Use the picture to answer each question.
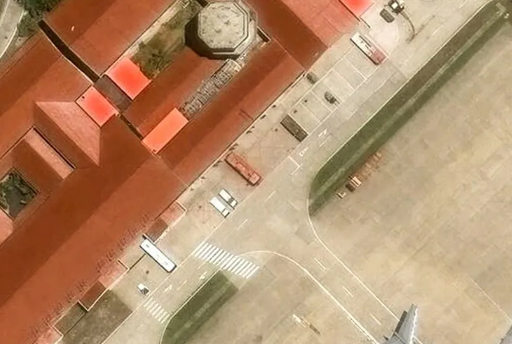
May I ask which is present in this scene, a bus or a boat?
bus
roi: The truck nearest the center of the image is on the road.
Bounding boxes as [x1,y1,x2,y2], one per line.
[225,153,259,185]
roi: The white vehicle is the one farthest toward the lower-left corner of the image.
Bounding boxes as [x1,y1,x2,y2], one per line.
[137,282,151,296]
